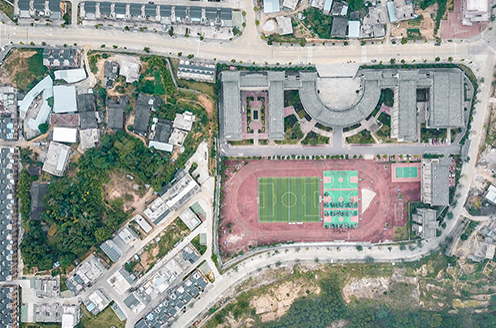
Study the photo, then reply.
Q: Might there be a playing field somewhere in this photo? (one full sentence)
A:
Yes, there's a playing field here.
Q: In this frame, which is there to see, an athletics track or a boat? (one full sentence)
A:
Of the two, only an athletics track appears.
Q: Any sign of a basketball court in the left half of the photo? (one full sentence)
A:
No, no basketball court can be made out in the left half of the photo.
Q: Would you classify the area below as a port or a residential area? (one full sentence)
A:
It's a residential area.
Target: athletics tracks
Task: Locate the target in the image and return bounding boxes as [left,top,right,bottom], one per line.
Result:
[230,160,388,239]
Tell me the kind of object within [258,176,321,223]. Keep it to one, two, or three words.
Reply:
soccer field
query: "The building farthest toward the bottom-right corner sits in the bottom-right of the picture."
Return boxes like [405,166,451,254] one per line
[471,241,495,259]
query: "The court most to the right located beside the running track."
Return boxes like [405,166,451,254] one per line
[392,163,418,182]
